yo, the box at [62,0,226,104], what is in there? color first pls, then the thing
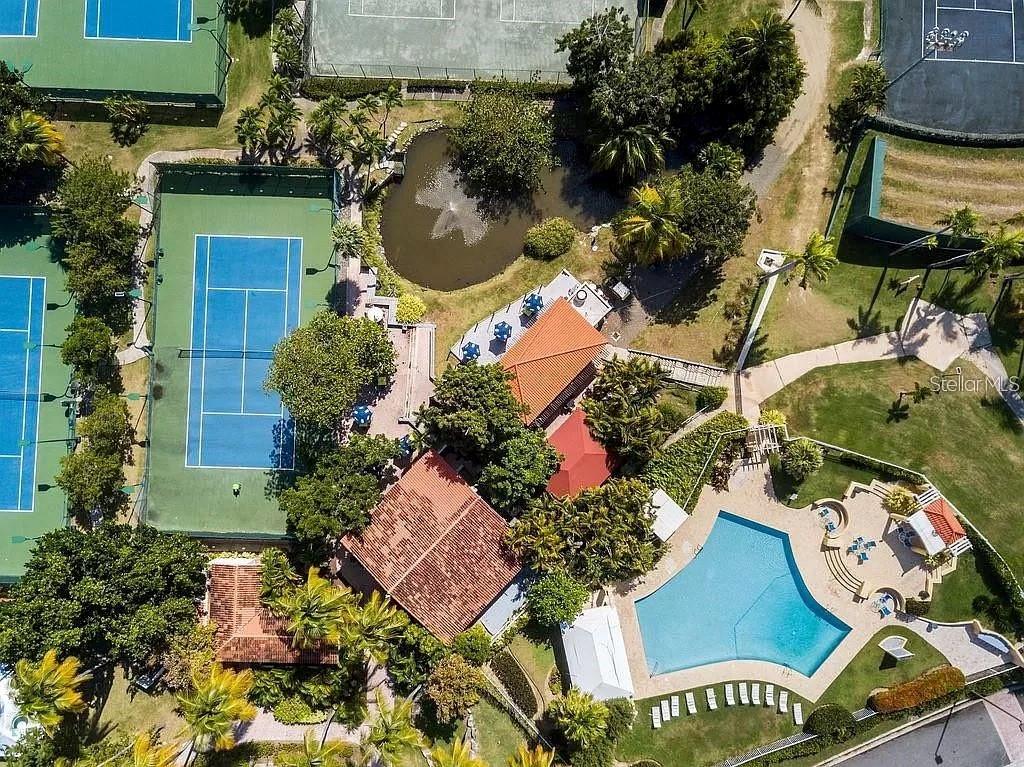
green tennis court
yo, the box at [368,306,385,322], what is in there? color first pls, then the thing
white umbrella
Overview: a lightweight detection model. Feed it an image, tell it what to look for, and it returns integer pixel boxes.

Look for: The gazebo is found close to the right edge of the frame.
[898,487,974,558]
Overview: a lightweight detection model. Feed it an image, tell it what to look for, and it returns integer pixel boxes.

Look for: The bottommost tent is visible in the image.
[562,601,634,702]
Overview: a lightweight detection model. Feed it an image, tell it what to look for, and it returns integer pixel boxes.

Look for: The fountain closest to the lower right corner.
[962,615,1024,668]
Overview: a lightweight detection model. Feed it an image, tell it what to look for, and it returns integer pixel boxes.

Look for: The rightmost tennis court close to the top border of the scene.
[882,0,1024,137]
